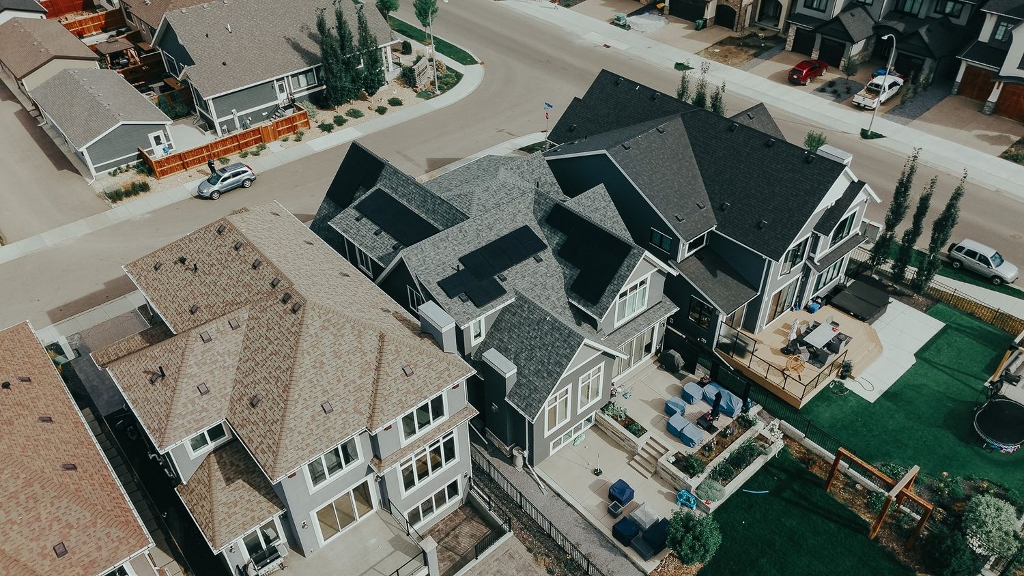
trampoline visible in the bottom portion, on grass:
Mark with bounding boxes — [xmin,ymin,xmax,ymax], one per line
[968,399,1024,461]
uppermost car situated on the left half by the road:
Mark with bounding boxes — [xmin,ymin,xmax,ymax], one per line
[194,161,259,200]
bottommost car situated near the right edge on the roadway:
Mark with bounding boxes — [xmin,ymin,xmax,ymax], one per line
[944,235,1024,286]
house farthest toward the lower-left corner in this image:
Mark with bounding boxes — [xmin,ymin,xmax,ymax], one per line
[0,319,159,576]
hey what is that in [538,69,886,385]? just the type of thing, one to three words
house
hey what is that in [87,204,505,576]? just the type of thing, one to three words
house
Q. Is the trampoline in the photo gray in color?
No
